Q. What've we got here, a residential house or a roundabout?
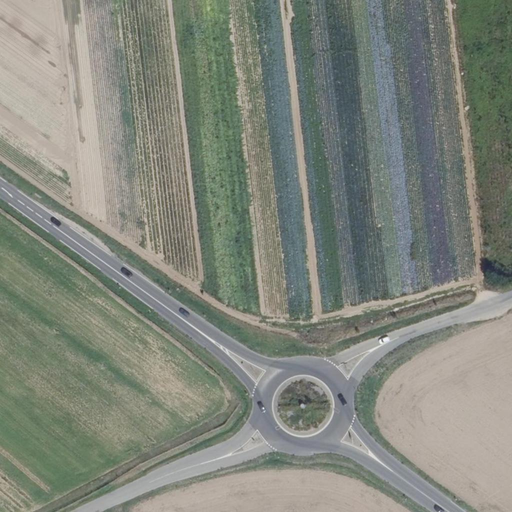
roundabout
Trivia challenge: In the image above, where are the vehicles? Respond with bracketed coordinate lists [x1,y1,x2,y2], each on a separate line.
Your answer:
[50,216,62,226]
[179,308,190,317]
[258,401,266,412]
[378,336,390,344]
[434,504,445,512]
[121,267,132,276]
[338,393,347,406]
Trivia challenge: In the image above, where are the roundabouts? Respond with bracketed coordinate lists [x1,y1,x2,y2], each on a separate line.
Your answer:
[240,346,358,454]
